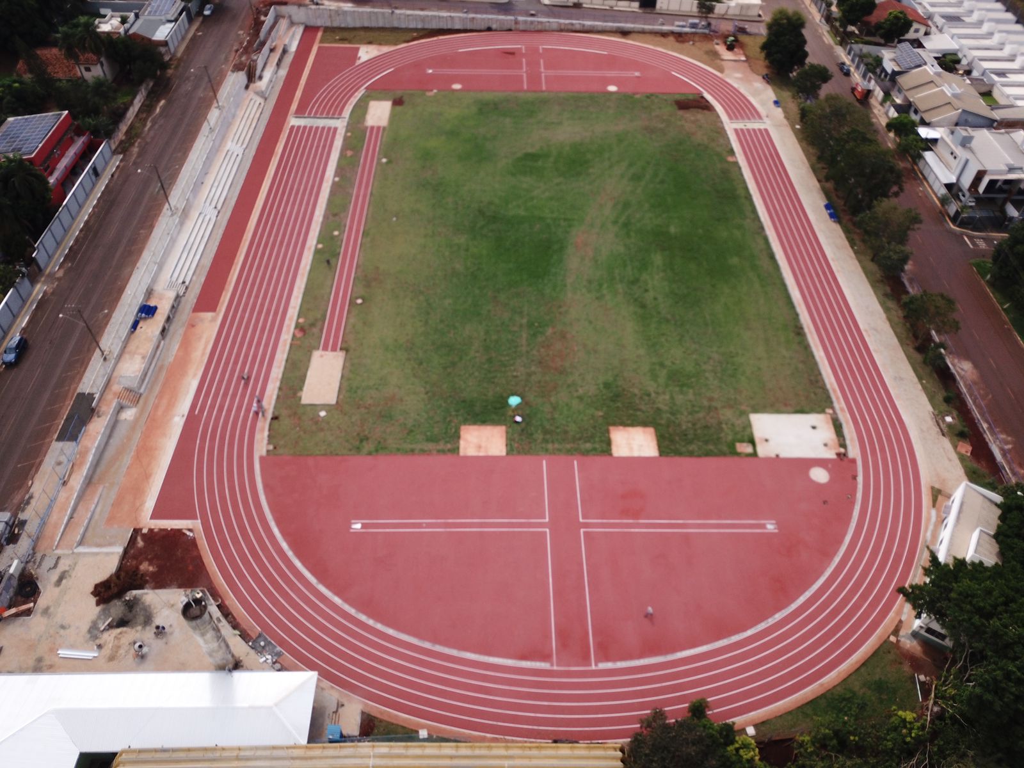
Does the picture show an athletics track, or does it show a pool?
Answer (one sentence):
There is an athletics track in the scene.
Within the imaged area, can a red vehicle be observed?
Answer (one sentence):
Yes, the image includes a red vehicle.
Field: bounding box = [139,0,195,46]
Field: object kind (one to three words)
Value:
house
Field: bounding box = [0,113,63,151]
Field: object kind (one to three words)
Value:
solar array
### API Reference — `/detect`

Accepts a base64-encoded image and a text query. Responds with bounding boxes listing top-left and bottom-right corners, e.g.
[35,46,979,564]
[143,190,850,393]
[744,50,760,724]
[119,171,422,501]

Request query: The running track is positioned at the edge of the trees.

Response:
[196,31,923,740]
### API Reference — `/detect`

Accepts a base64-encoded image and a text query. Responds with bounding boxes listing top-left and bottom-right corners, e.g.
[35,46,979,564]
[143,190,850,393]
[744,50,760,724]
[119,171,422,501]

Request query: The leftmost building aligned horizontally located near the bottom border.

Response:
[0,670,320,768]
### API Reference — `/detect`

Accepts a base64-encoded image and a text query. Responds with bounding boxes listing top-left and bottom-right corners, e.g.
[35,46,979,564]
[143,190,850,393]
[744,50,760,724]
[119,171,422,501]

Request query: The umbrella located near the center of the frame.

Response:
[507,395,522,411]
